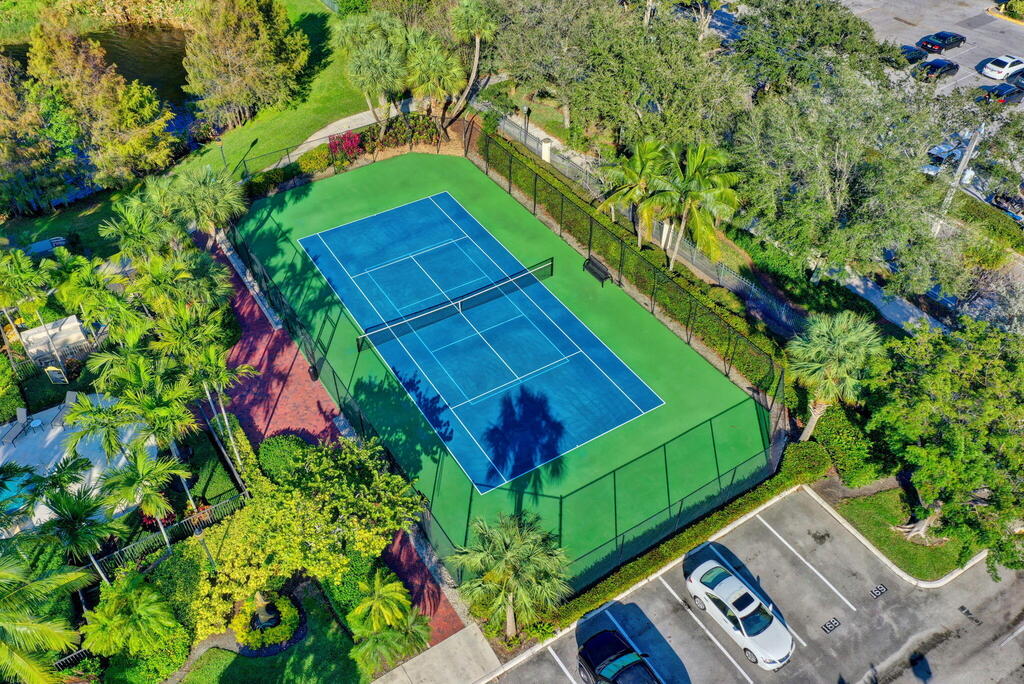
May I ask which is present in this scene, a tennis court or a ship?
tennis court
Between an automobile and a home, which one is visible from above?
automobile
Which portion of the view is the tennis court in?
center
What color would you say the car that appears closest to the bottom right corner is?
white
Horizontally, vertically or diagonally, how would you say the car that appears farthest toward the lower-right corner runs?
diagonally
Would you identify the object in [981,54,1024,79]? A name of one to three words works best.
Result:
car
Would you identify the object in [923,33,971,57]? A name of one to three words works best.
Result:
car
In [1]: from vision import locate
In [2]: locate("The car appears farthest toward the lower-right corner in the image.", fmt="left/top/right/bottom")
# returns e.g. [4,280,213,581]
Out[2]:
[685,561,798,670]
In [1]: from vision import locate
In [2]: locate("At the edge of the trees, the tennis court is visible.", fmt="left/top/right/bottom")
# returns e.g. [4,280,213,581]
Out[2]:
[227,152,779,593]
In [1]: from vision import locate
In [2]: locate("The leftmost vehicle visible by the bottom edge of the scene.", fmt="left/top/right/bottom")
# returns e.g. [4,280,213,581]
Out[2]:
[575,633,655,684]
